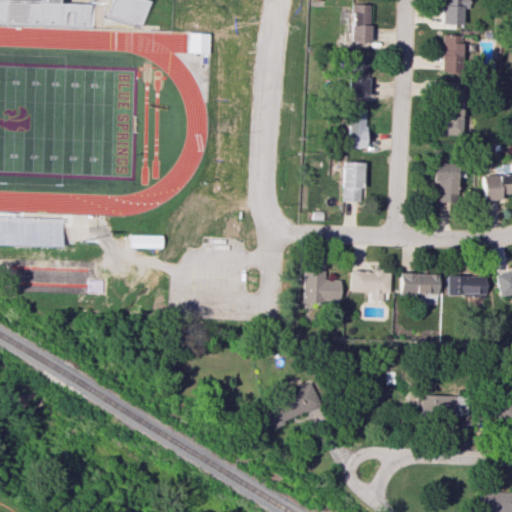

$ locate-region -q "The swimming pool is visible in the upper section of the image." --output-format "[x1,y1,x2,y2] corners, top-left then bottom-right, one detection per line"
[478,38,497,64]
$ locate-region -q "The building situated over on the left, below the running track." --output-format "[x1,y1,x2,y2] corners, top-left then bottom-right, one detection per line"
[128,235,165,250]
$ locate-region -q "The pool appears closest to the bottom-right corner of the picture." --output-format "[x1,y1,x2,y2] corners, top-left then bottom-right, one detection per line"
[360,301,389,320]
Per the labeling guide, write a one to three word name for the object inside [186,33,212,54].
shed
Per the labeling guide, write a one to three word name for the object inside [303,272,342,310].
house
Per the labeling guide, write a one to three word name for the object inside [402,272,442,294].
house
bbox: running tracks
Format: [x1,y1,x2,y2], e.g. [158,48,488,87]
[0,28,208,216]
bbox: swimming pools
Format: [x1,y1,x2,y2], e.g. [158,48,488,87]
[275,358,286,368]
[360,301,389,320]
[478,38,497,64]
